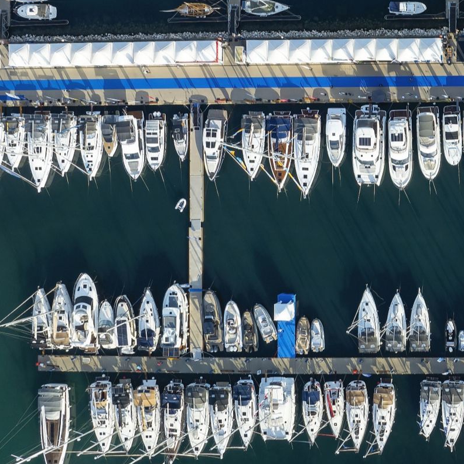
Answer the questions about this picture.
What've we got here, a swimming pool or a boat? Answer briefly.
boat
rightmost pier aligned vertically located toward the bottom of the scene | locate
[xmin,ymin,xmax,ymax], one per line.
[277,294,296,357]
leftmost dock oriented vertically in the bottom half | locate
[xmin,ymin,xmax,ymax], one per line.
[189,227,205,350]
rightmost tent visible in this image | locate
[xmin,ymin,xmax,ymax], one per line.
[420,38,443,65]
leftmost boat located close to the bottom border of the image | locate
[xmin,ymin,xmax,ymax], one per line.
[0,369,76,464]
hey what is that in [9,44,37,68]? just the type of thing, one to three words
tent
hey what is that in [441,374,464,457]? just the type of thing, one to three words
boat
